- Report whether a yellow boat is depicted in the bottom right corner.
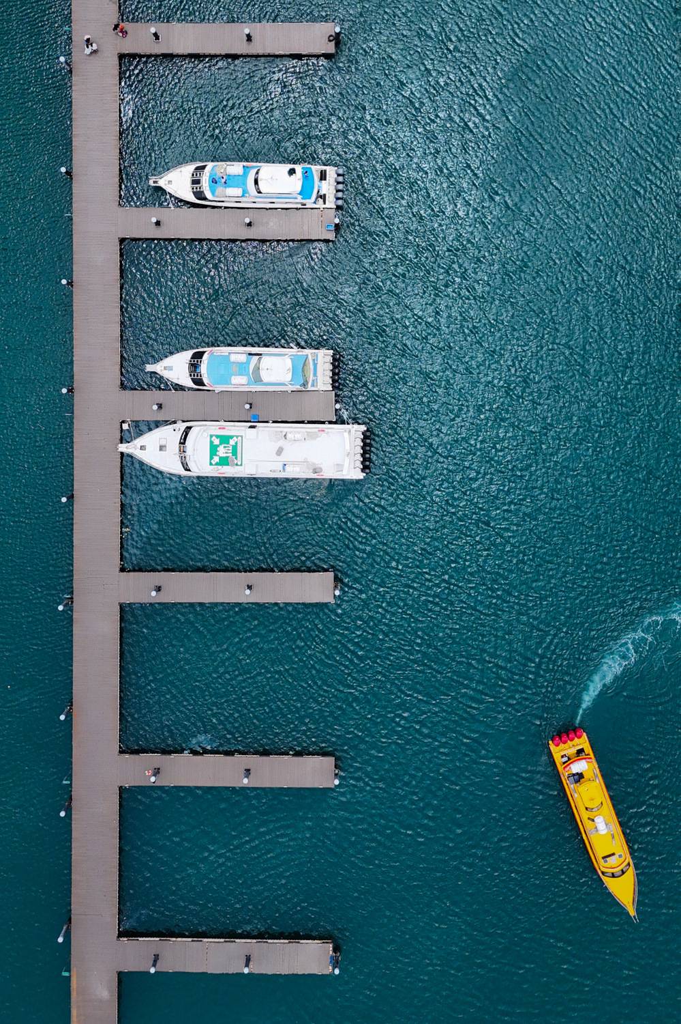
Yes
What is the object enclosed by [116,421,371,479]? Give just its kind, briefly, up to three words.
boat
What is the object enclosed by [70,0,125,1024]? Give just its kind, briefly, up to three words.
pier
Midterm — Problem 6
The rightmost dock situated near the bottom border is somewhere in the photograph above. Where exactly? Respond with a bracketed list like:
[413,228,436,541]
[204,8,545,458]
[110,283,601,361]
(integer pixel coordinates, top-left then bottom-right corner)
[118,931,332,974]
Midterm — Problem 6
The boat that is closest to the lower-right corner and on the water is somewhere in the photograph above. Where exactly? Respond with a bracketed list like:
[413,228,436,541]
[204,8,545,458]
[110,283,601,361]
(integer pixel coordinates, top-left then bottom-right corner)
[548,724,639,922]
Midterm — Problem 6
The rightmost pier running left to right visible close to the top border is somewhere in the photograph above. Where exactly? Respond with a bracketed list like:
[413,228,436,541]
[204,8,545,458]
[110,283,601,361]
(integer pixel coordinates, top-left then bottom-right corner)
[119,23,336,60]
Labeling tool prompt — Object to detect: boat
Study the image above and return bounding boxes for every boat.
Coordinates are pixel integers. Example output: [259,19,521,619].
[548,724,639,922]
[146,343,340,392]
[116,421,371,479]
[149,162,344,209]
